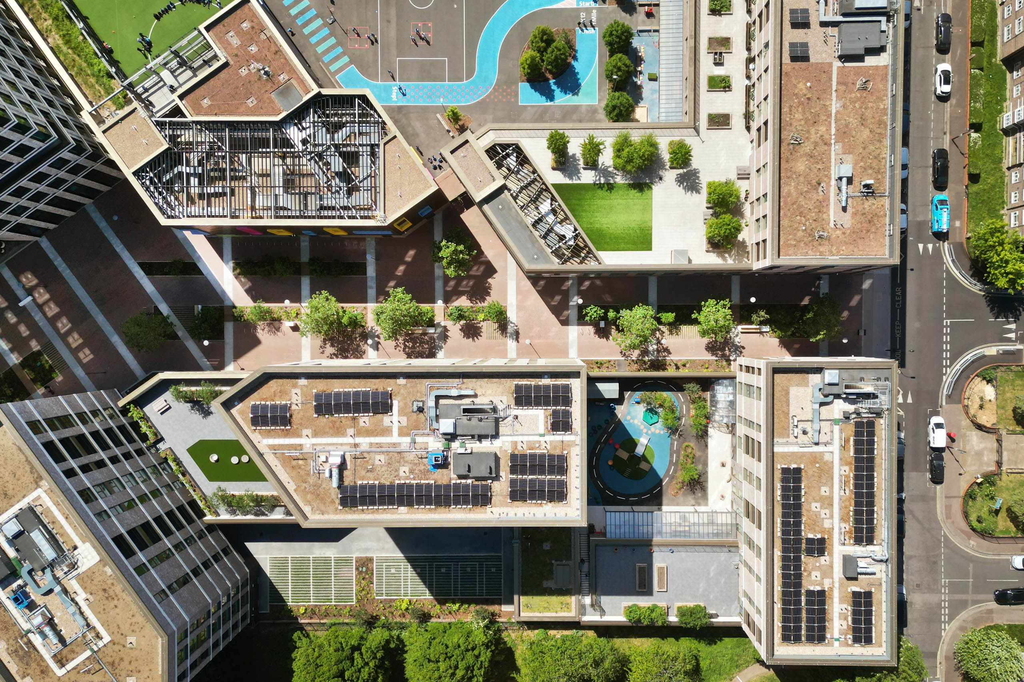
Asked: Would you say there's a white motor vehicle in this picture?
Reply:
Yes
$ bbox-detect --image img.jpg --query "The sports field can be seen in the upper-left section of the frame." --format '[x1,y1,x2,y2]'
[67,0,235,87]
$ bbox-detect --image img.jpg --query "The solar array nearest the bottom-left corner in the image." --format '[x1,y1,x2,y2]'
[250,400,292,430]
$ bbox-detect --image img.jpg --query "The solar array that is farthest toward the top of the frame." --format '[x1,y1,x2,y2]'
[788,7,810,23]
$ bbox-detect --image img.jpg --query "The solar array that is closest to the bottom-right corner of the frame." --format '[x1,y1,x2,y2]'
[847,588,875,645]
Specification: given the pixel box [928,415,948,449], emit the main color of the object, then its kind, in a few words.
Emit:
white vehicle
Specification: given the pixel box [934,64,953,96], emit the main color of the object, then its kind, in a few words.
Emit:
white car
